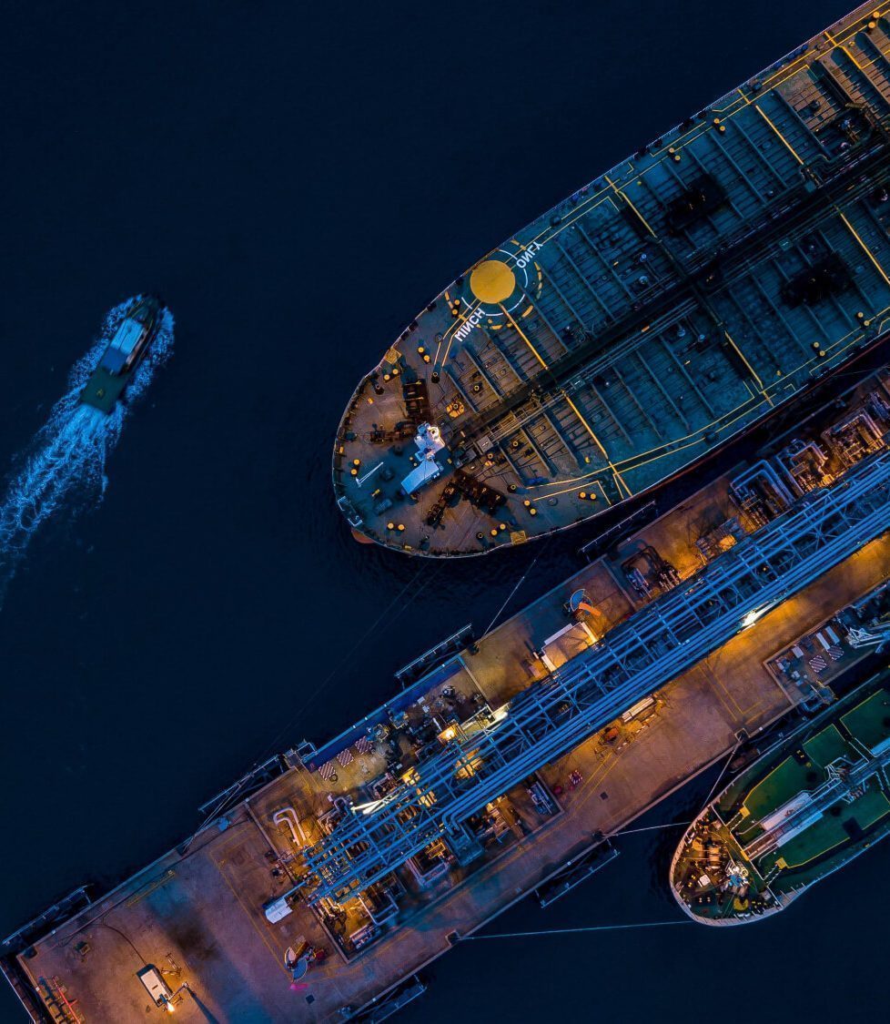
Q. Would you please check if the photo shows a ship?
Yes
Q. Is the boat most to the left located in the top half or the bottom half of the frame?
top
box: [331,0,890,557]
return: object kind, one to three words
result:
ship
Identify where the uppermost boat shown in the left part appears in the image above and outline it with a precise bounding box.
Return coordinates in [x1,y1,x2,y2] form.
[80,293,162,415]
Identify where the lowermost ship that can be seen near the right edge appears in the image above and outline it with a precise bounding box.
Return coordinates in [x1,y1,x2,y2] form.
[670,657,890,926]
